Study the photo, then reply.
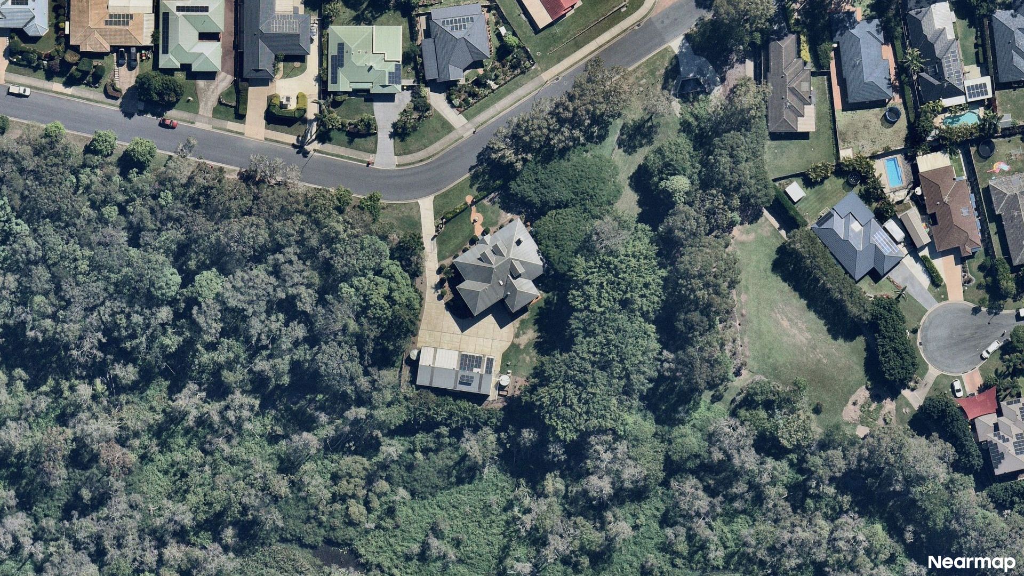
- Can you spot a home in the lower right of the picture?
Yes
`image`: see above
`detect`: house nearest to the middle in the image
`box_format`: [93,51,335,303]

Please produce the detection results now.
[453,219,542,316]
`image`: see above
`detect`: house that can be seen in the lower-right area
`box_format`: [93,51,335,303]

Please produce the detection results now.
[974,397,1024,475]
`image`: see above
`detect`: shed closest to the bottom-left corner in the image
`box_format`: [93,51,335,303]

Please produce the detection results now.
[417,345,496,396]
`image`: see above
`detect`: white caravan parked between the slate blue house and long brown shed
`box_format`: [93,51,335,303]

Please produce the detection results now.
[884,220,904,243]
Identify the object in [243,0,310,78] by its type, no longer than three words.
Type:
house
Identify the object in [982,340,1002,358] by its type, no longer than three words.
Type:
car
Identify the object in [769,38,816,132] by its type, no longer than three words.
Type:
house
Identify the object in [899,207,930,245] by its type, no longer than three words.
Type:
shed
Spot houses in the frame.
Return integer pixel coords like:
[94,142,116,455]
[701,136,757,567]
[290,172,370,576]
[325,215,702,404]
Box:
[906,1,994,107]
[989,172,1024,263]
[159,0,224,71]
[917,151,984,257]
[769,38,816,132]
[836,18,896,102]
[328,25,402,93]
[453,219,542,316]
[243,0,310,78]
[421,3,490,84]
[811,191,906,280]
[520,0,582,29]
[992,12,1024,96]
[69,0,154,51]
[0,0,48,36]
[974,397,1024,475]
